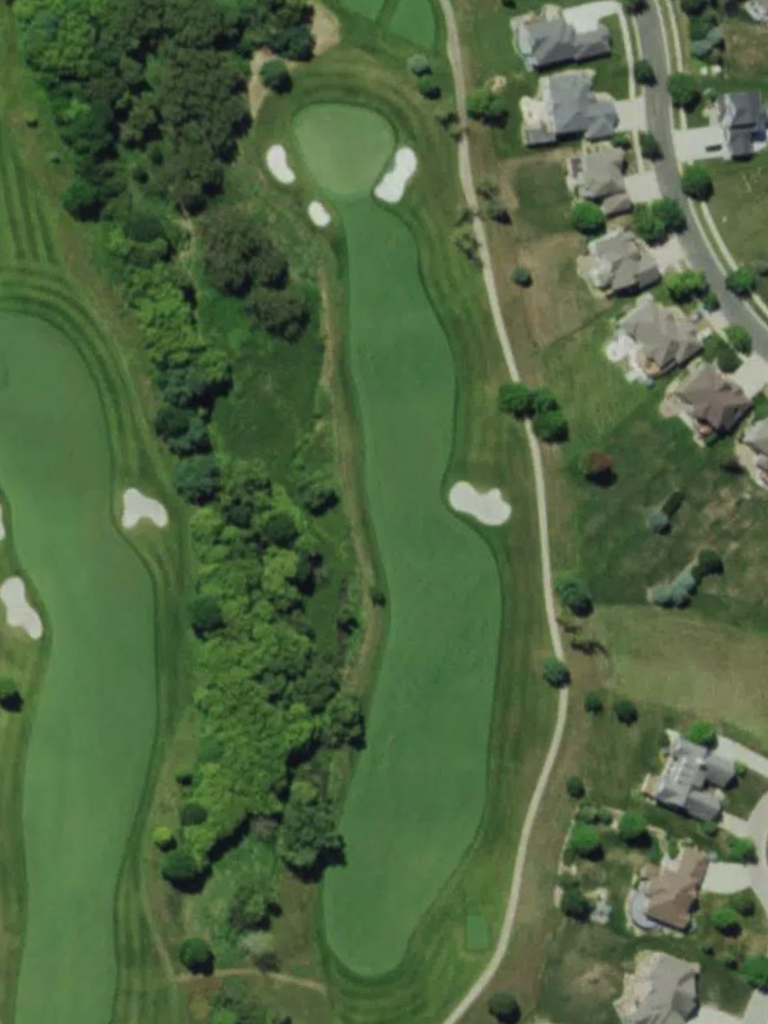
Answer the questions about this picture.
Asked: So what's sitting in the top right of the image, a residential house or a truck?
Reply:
residential house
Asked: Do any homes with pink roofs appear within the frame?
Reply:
No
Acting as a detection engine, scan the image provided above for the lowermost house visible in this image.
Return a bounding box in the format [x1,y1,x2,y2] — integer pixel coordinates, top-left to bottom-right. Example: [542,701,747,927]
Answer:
[613,950,702,1024]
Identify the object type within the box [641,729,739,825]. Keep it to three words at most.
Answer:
house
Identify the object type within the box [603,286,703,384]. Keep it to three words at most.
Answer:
house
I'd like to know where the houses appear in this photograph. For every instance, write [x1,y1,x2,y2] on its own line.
[511,5,614,71]
[703,92,768,155]
[641,729,739,825]
[659,359,755,447]
[613,950,702,1024]
[577,224,660,298]
[520,69,621,146]
[566,141,635,214]
[603,286,703,384]
[625,841,709,937]
[743,0,768,22]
